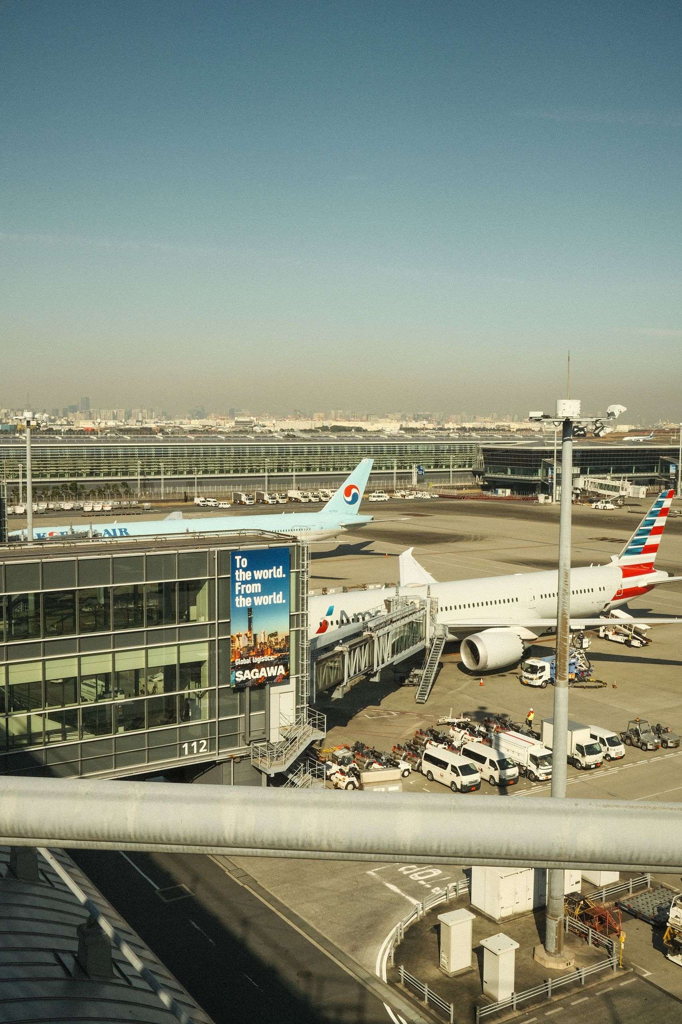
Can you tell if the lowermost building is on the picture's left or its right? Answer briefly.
left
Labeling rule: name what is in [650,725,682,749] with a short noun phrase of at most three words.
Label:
work vehicle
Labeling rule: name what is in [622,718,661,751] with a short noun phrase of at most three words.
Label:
work vehicle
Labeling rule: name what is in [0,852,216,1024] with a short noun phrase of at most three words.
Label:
building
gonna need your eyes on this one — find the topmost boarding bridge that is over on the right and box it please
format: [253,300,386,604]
[570,475,642,507]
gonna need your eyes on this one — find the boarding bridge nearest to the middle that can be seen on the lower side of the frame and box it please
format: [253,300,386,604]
[299,581,447,708]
